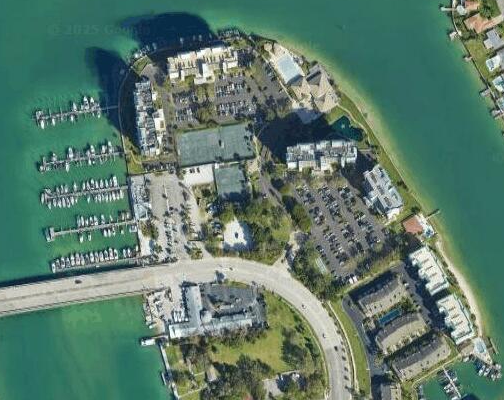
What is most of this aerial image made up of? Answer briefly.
water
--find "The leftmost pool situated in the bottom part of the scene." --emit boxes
[375,307,404,327]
